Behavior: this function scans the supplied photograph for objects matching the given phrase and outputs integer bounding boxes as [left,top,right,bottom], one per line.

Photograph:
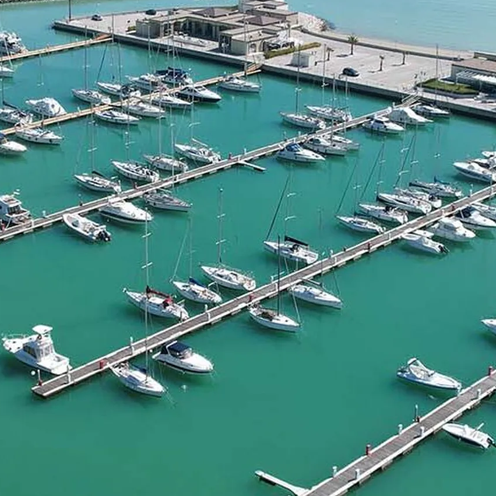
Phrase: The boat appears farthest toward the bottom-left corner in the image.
[0,321,68,378]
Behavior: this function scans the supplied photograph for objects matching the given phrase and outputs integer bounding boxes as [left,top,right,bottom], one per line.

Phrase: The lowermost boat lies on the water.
[450,423,496,457]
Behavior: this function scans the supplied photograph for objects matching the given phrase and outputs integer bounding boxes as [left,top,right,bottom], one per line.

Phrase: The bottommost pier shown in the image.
[255,470,314,496]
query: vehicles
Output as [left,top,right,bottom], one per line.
[87,11,105,20]
[141,7,160,15]
[340,63,362,74]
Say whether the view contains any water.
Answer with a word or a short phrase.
Yes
